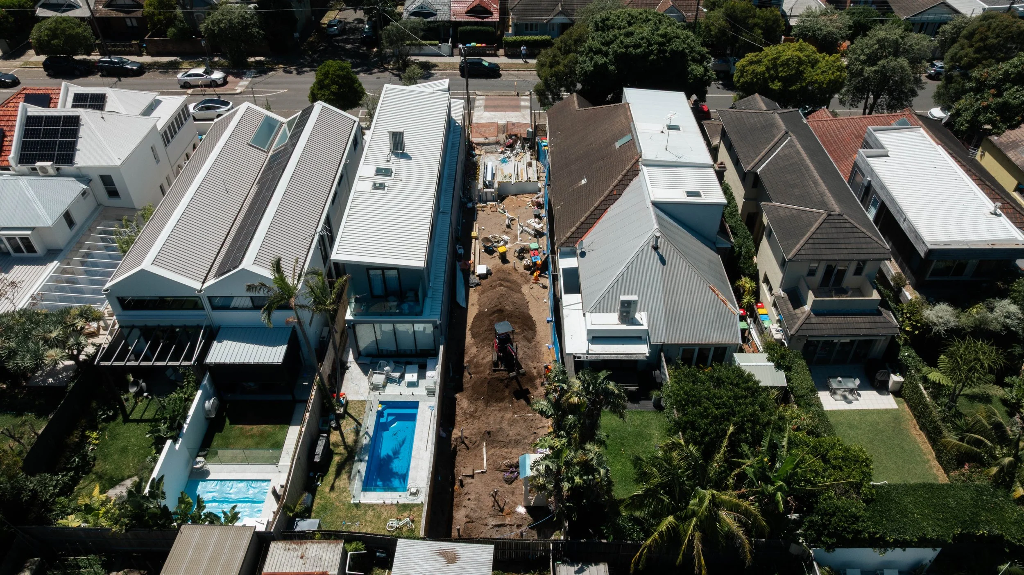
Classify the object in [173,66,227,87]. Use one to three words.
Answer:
car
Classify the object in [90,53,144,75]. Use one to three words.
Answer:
car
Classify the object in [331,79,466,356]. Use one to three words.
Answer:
house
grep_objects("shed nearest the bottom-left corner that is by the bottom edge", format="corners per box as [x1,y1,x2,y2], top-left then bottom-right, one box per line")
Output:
[162,525,262,575]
